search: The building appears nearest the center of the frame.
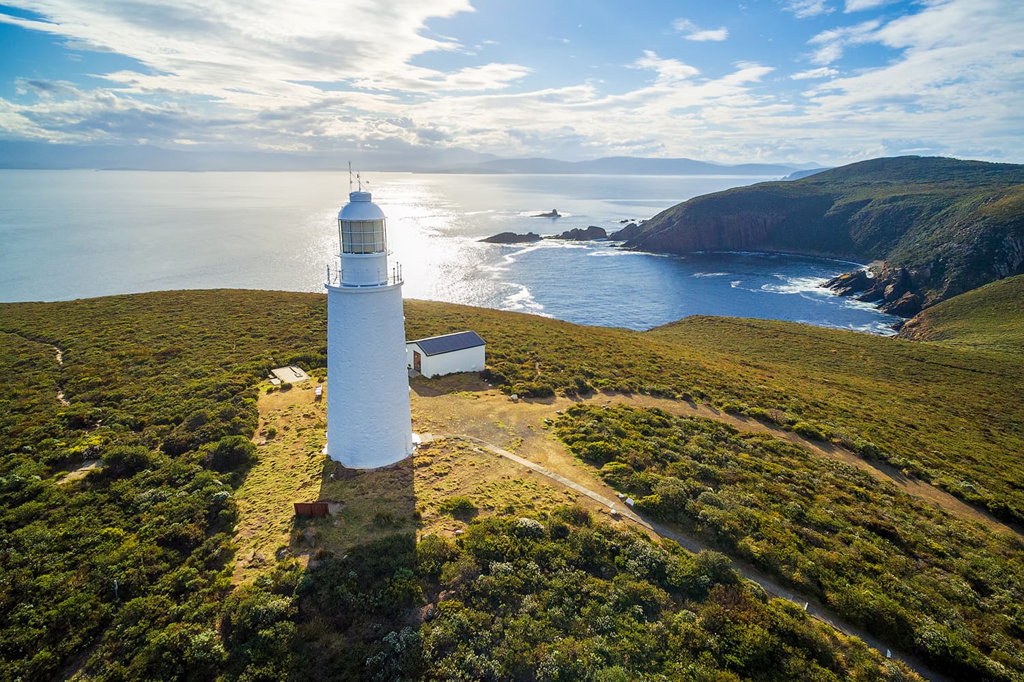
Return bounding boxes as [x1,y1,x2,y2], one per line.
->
[408,335,489,378]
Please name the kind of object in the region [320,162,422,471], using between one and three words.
lighthouse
